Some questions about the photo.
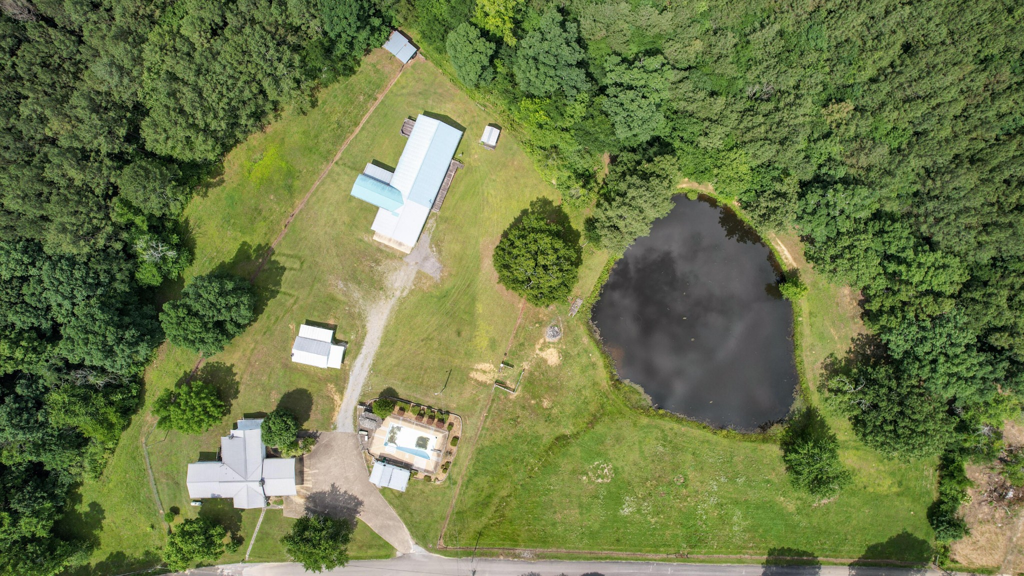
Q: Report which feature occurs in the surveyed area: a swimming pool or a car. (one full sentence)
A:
This aerial view contains a swimming pool.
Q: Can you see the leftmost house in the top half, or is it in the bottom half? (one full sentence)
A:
The leftmost house sits in the bottom half of the picture.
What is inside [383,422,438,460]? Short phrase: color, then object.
white swimming pool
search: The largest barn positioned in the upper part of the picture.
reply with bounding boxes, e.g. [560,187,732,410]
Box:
[352,114,462,246]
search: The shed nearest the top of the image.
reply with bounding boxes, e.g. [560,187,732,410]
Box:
[383,31,417,66]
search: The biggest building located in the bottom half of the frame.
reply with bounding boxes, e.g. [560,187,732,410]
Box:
[186,417,301,509]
